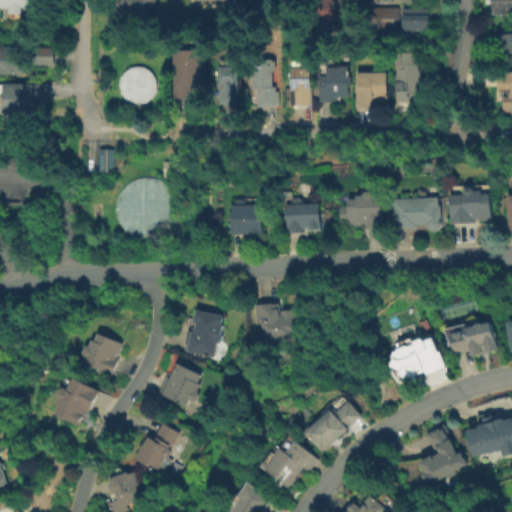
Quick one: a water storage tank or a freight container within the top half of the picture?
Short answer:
water storage tank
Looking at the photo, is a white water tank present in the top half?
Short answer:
Yes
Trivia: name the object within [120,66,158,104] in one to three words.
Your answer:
water tank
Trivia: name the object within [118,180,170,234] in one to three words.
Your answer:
water tank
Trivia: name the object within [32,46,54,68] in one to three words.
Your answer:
building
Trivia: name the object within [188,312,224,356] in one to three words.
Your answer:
house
